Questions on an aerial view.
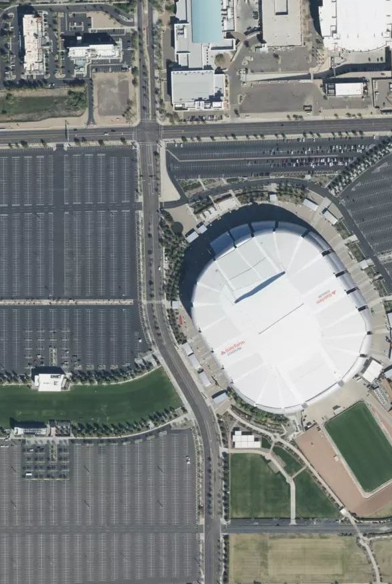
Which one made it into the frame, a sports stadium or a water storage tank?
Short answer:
sports stadium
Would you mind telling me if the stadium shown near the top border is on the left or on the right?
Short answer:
right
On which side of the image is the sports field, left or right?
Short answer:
right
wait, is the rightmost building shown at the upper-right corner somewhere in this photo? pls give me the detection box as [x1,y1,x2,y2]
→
[328,83,364,95]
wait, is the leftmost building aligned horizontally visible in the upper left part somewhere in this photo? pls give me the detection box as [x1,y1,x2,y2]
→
[68,45,125,59]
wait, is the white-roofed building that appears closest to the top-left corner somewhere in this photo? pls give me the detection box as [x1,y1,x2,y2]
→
[23,13,49,75]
